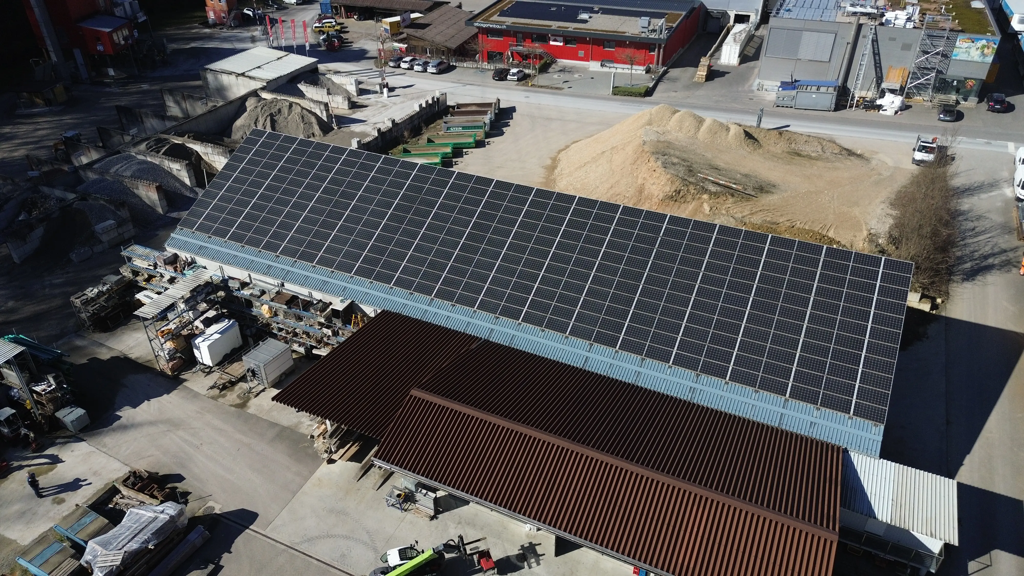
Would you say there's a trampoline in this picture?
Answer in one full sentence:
No, I can see no trampoline in this picture.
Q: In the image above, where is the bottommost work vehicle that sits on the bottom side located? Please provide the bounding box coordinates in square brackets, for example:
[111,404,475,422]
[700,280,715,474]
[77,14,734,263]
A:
[372,529,494,576]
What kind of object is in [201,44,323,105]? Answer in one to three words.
shed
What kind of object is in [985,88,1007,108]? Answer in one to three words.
car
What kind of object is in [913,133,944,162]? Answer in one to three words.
truck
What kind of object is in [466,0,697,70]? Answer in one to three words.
building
